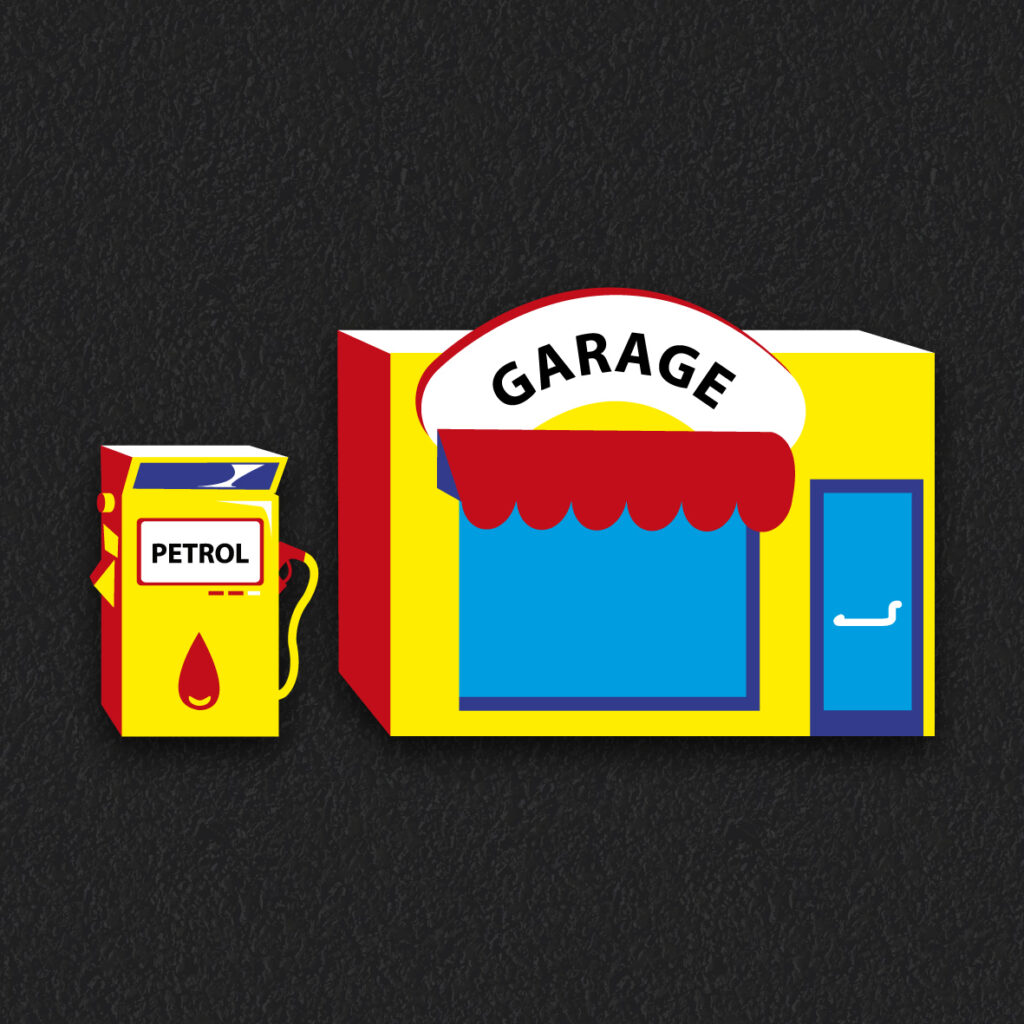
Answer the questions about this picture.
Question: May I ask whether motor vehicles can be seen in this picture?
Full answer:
No, no motor vehicle is visible in the view.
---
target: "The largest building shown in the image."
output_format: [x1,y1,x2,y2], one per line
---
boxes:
[338,287,935,736]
